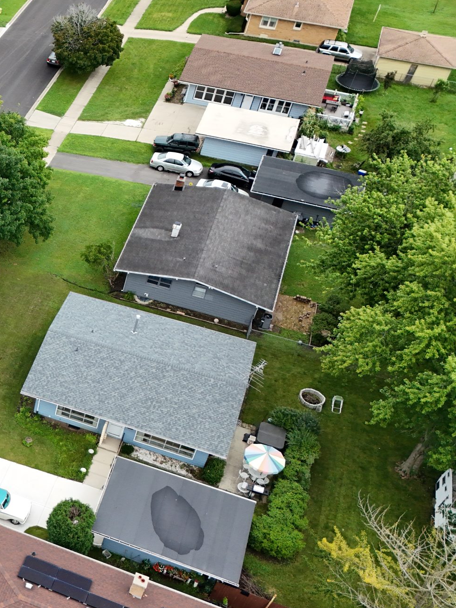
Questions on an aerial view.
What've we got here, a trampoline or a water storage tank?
trampoline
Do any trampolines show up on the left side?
No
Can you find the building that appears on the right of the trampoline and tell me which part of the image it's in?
top right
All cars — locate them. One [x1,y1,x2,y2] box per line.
[313,41,359,67]
[205,160,257,186]
[151,152,205,177]
[196,176,253,197]
[46,48,63,66]
[155,130,202,157]
[0,483,42,524]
